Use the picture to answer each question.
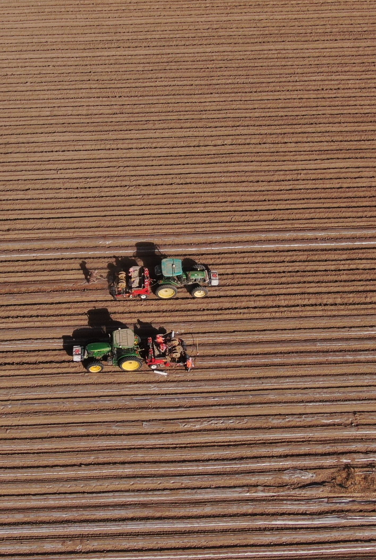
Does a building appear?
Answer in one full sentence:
No, the frame has no building in it.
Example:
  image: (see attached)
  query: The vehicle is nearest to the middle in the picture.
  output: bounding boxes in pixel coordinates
[149,257,220,300]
